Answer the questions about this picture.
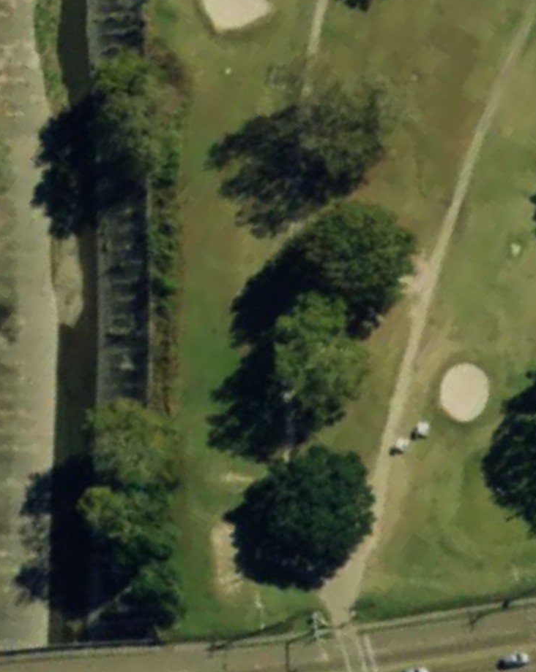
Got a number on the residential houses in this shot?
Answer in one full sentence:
No residential houses are visible.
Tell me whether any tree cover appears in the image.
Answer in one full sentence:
Yes, tree cover can be seen from above here.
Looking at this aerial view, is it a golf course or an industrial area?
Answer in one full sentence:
It's a golf course.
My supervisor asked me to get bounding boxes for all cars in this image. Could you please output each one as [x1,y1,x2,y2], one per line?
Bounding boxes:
[397,666,429,672]
[497,653,533,670]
